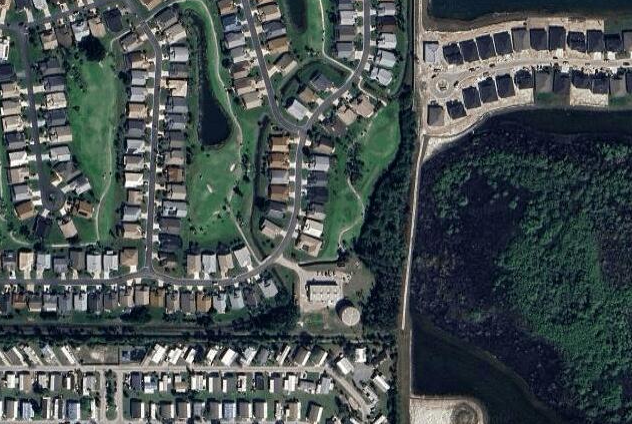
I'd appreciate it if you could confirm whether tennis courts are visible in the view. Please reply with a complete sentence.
No, I find no tennis court anywhere in the image.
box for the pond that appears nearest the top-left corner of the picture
[192,12,230,145]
